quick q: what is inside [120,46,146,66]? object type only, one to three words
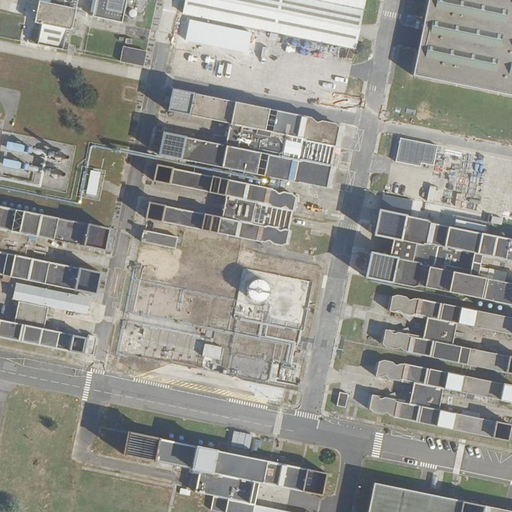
shed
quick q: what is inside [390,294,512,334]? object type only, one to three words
building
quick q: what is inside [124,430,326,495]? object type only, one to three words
building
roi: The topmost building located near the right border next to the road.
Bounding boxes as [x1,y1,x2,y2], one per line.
[412,0,512,98]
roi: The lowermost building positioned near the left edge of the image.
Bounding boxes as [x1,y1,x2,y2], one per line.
[0,321,96,354]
